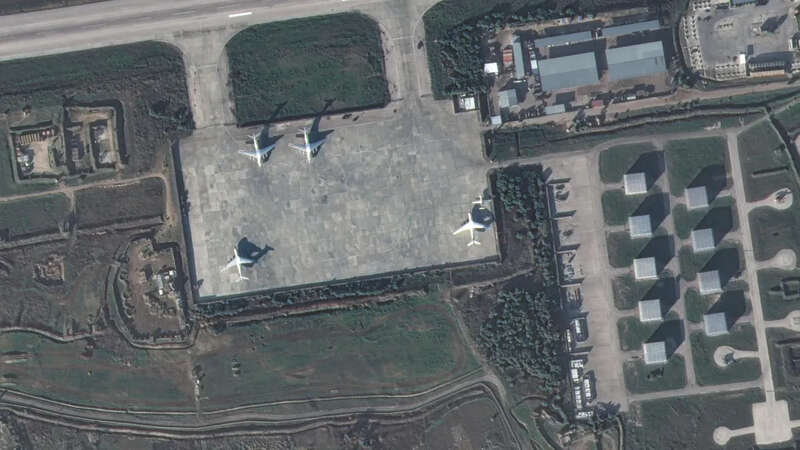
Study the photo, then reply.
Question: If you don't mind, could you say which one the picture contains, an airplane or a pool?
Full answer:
It is an airplane that can be seen here.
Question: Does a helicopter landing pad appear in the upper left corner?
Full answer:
No, looking in the upper left corner, there is no helicopter landing pad.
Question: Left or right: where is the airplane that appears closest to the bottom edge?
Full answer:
The airplane that appears closest to the bottom edge sits on the left side.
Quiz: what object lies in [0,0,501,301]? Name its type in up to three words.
airport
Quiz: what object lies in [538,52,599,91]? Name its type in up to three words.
building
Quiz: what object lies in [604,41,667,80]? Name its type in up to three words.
building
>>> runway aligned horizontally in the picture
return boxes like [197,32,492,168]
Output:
[0,0,344,62]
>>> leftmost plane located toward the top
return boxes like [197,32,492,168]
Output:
[238,131,275,166]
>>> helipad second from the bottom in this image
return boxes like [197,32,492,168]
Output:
[712,346,763,366]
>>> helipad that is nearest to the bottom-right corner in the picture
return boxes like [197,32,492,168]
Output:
[713,427,756,445]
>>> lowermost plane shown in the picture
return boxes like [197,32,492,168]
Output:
[220,248,257,280]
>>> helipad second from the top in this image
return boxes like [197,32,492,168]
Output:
[752,249,796,271]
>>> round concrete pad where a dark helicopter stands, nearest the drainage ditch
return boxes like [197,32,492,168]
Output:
[744,189,792,210]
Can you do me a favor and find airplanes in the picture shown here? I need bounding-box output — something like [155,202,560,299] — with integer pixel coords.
[453,212,491,244]
[220,248,257,280]
[288,127,325,163]
[472,197,491,211]
[238,131,275,166]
